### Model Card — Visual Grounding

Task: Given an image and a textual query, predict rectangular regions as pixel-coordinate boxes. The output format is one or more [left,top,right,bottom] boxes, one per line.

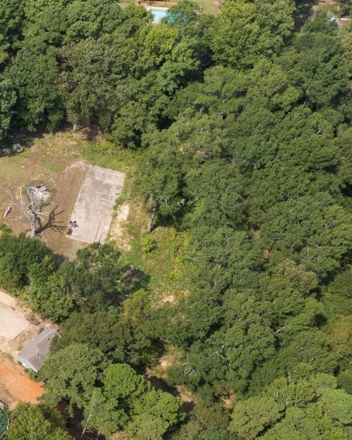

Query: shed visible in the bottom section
[17,327,59,377]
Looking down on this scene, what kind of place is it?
forest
